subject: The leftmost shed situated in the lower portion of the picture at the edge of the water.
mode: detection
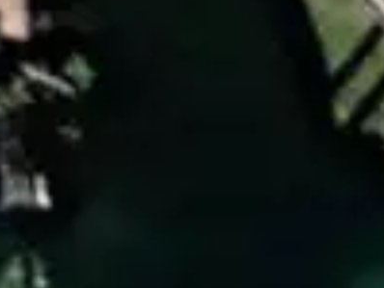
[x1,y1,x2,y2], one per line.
[0,172,51,212]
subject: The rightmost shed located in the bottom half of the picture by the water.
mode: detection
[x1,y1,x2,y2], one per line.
[37,174,68,214]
